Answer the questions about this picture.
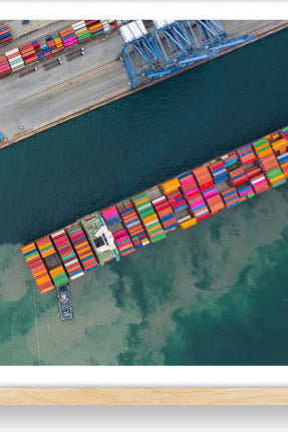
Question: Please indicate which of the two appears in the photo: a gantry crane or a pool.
gantry crane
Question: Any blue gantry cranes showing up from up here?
Yes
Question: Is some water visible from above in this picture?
Yes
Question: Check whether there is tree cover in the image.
No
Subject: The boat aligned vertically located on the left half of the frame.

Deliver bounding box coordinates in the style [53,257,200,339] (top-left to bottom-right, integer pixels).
[56,282,74,322]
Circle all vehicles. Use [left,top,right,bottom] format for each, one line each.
[67,47,84,56]
[20,68,38,76]
[69,51,84,60]
[44,58,61,65]
[46,61,62,69]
